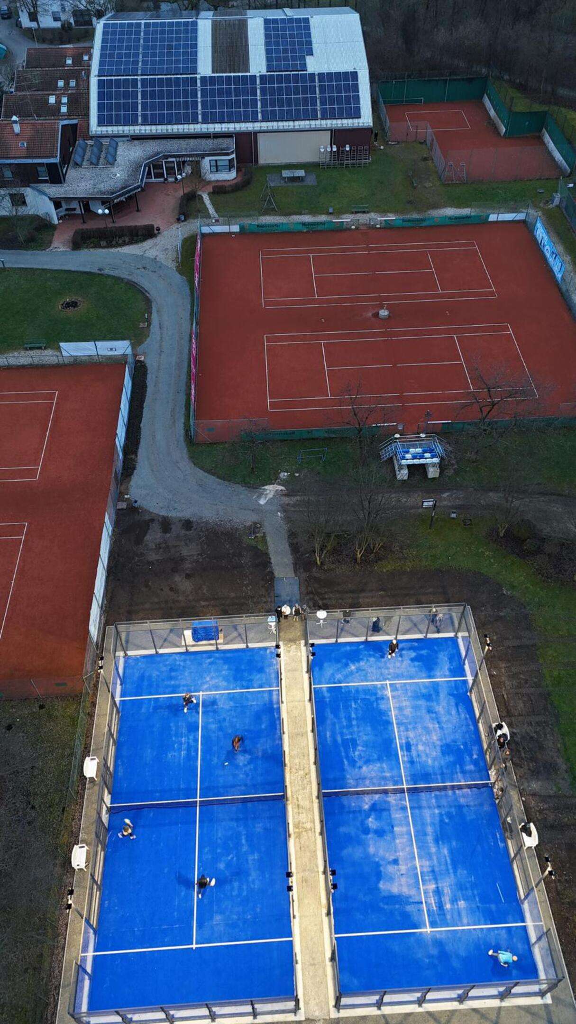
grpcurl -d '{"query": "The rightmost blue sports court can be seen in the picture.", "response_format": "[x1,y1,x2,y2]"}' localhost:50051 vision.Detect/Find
[303,603,564,1012]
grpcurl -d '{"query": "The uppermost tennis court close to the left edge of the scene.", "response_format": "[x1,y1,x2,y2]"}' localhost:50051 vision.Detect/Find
[0,363,125,503]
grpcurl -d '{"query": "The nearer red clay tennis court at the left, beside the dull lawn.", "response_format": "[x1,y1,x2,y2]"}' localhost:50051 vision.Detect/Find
[0,498,109,700]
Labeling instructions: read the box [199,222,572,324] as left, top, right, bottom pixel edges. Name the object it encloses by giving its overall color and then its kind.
red tennis court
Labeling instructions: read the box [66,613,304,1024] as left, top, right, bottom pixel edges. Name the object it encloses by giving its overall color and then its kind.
blue sports court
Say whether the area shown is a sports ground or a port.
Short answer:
sports ground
